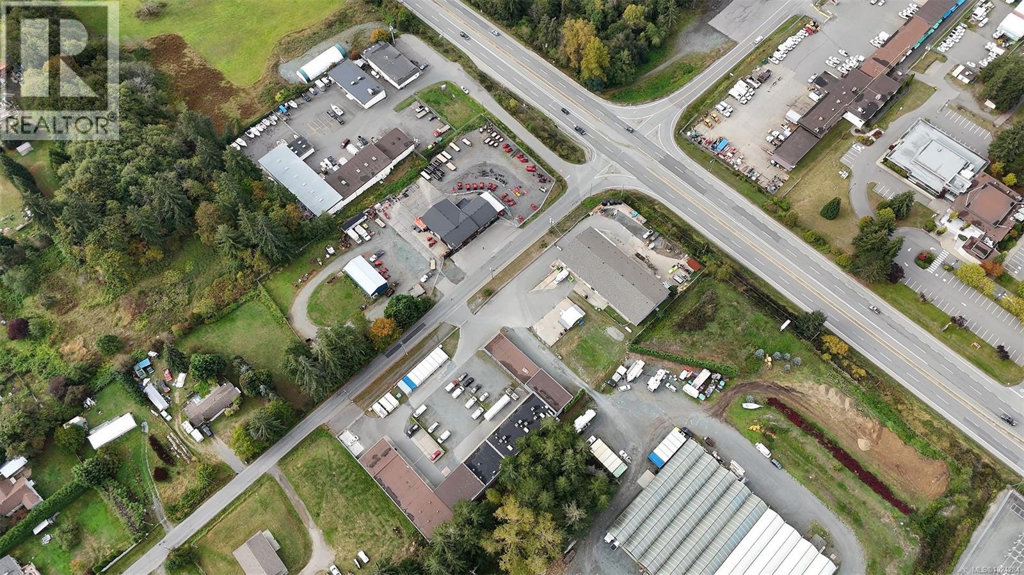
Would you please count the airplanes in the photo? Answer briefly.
0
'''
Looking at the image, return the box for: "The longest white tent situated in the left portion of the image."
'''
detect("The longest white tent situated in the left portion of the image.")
[296,40,348,82]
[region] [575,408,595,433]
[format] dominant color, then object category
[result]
white camper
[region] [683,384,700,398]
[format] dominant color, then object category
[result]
white camper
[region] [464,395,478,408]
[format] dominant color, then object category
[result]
white vehicle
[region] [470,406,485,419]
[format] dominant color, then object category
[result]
white vehicle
